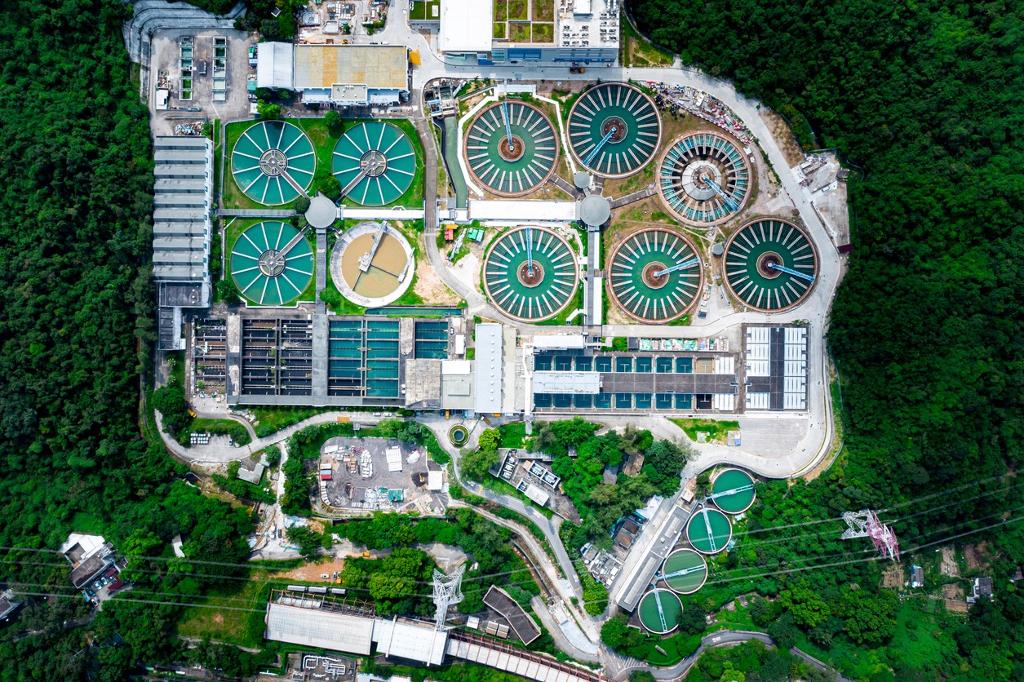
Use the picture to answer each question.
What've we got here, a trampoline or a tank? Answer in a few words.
tank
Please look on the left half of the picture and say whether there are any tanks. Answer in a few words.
Yes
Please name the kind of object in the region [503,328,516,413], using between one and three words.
building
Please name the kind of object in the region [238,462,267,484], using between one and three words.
house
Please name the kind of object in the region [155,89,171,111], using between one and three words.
shed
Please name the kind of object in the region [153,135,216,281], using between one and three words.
building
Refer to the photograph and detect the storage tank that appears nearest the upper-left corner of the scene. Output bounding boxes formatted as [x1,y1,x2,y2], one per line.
[232,121,317,206]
